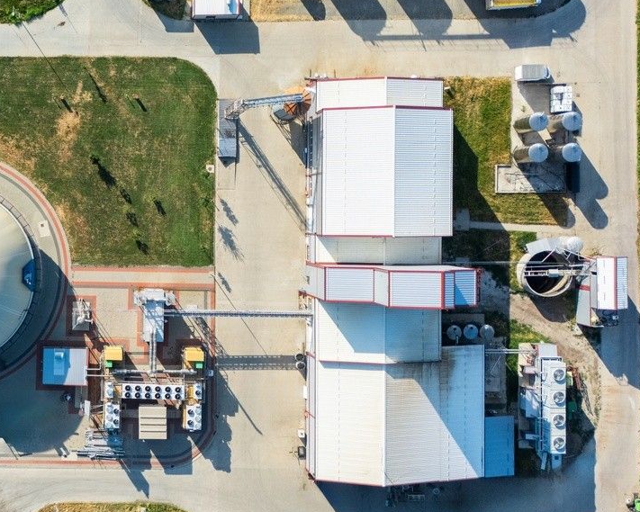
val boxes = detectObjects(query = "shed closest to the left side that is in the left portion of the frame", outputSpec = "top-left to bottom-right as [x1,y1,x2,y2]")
[44,347,89,386]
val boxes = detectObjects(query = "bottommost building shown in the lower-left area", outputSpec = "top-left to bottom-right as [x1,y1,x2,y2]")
[138,402,166,439]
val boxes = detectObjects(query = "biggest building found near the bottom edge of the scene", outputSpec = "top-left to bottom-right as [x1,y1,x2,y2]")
[307,342,485,491]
